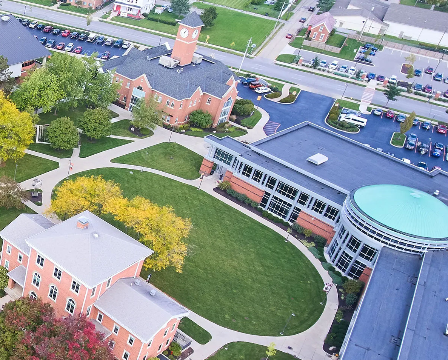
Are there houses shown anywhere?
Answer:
Yes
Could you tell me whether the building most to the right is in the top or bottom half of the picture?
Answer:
top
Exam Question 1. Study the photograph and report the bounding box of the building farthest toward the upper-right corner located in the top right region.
[386,6,448,46]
